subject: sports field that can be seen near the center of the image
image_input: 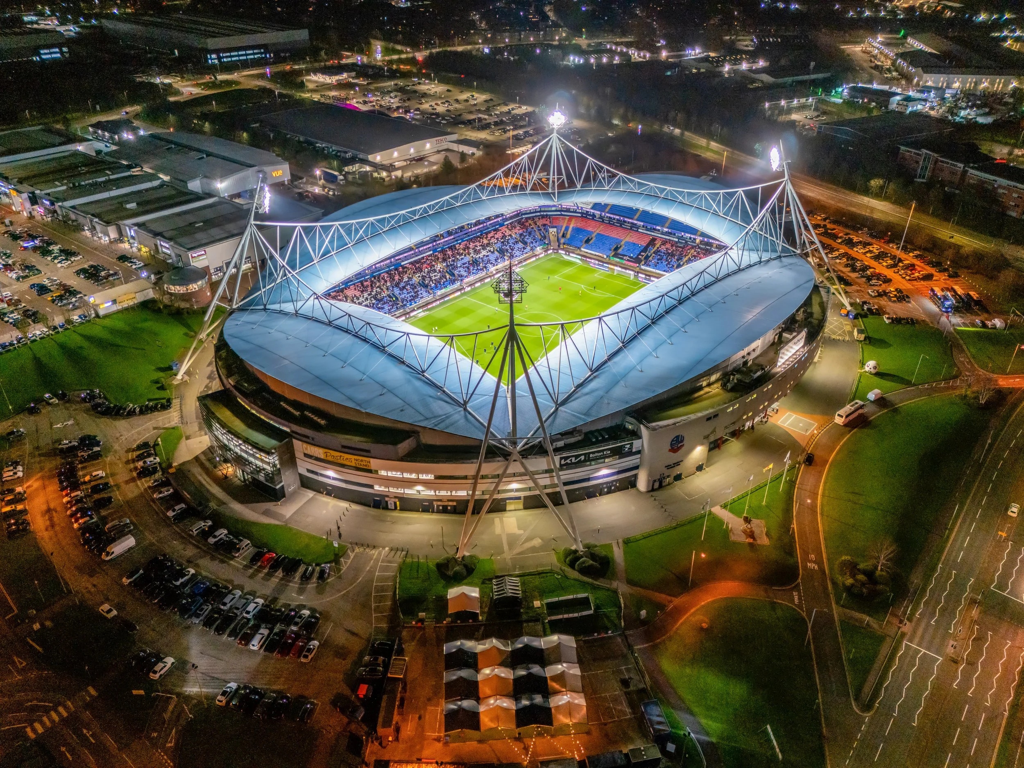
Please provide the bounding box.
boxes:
[405,251,648,382]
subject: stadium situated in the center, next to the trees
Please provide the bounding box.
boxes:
[196,134,828,516]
